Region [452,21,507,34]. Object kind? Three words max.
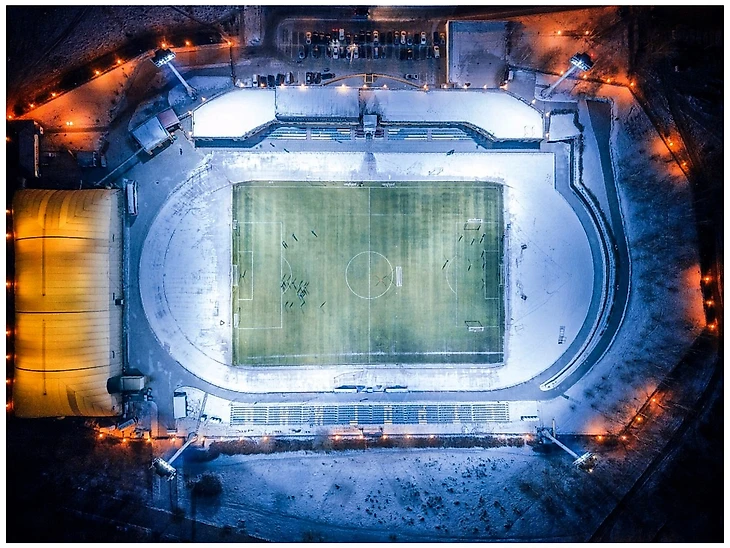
shed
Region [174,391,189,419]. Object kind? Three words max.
building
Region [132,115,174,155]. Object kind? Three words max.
building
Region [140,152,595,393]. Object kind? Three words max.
running track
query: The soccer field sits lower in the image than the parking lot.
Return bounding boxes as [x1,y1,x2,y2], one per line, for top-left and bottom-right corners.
[233,180,504,364]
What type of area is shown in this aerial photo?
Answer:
sports ground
